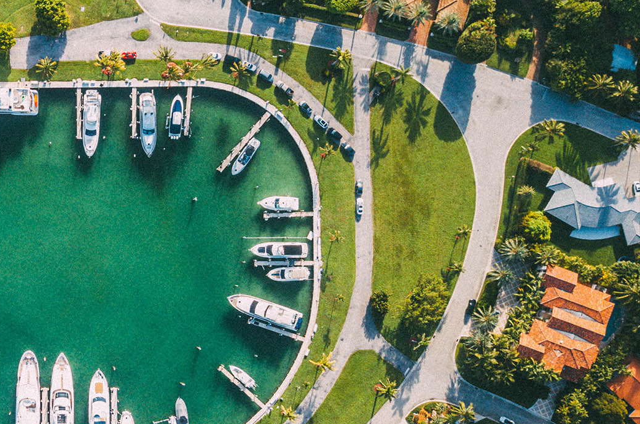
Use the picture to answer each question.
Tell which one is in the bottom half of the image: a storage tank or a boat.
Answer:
boat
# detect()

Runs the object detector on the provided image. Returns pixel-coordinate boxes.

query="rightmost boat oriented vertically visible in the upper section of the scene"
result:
[167,96,185,141]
